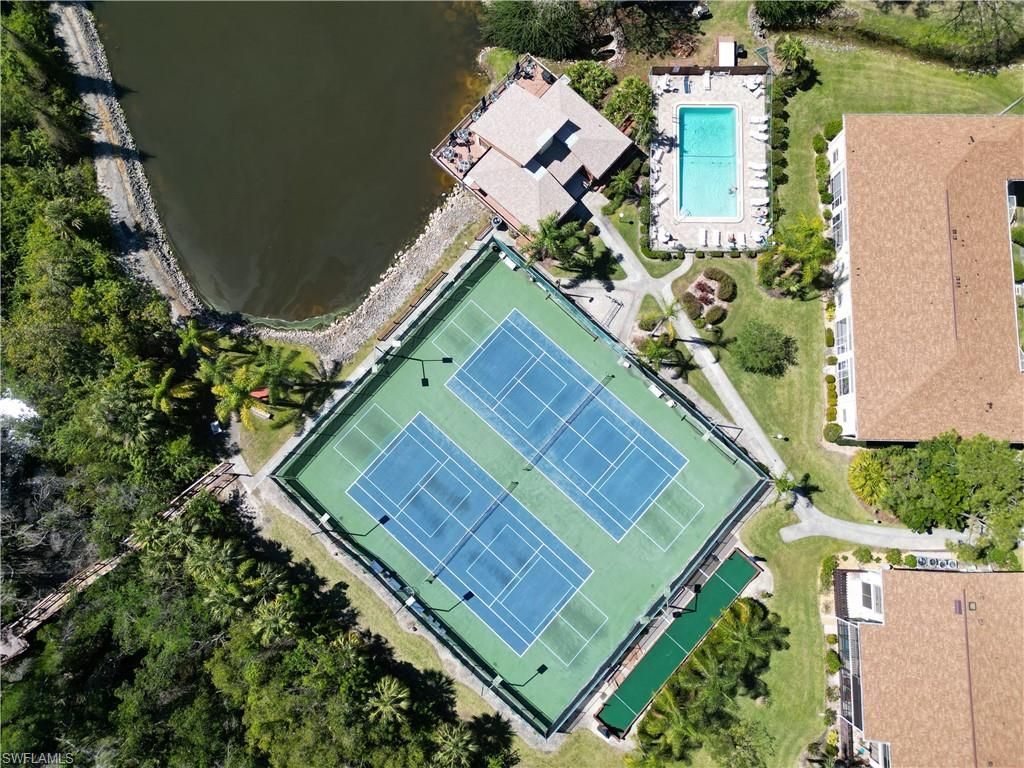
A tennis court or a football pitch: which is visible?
tennis court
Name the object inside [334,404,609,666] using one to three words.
tennis court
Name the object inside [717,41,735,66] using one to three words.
shed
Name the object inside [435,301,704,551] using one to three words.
tennis court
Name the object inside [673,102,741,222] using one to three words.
swimming pool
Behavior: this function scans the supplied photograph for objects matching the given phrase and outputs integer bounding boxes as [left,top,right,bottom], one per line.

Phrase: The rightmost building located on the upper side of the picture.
[831,113,1024,446]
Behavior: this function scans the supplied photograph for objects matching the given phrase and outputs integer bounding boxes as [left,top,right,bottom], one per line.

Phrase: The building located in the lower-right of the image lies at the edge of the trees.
[834,567,1024,768]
